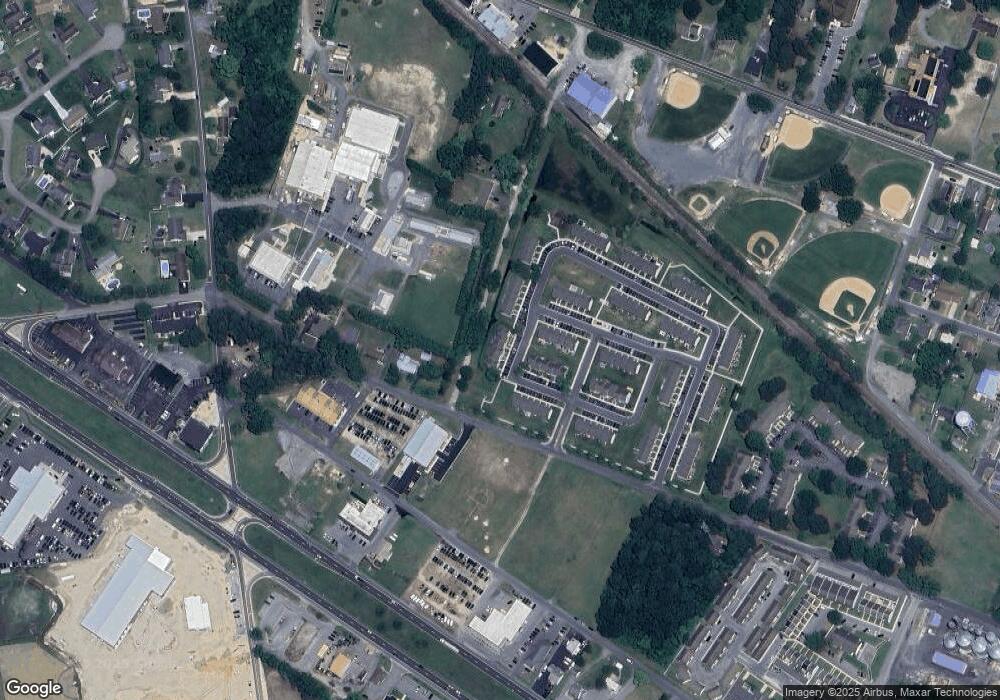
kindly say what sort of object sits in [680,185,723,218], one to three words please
baseball field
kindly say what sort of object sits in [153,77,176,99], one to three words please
house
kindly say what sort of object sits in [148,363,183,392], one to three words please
building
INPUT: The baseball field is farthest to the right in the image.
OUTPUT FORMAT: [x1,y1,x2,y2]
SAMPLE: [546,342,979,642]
[861,157,931,226]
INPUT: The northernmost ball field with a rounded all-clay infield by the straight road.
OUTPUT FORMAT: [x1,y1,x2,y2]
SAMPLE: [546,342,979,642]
[649,66,740,144]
